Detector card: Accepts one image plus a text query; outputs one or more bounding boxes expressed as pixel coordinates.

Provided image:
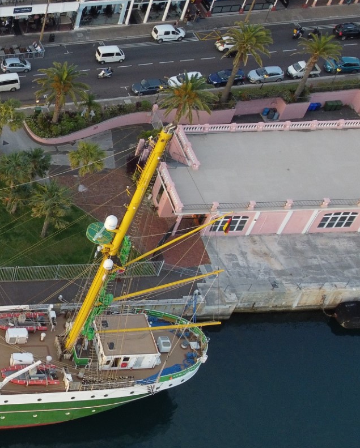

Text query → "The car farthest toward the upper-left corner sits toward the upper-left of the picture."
[2,58,33,74]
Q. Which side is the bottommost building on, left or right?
right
